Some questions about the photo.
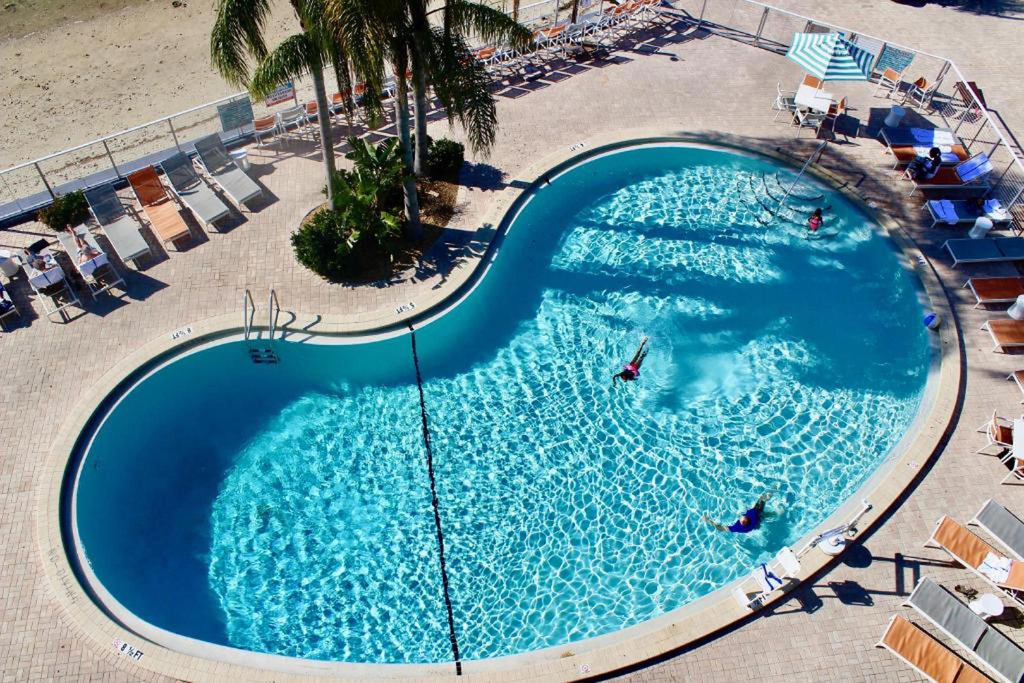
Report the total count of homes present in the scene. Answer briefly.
0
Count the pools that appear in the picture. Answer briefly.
1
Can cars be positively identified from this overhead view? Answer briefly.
No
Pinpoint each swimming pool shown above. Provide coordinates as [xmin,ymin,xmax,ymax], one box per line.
[77,147,927,667]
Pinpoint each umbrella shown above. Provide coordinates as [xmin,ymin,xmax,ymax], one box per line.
[786,27,874,97]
